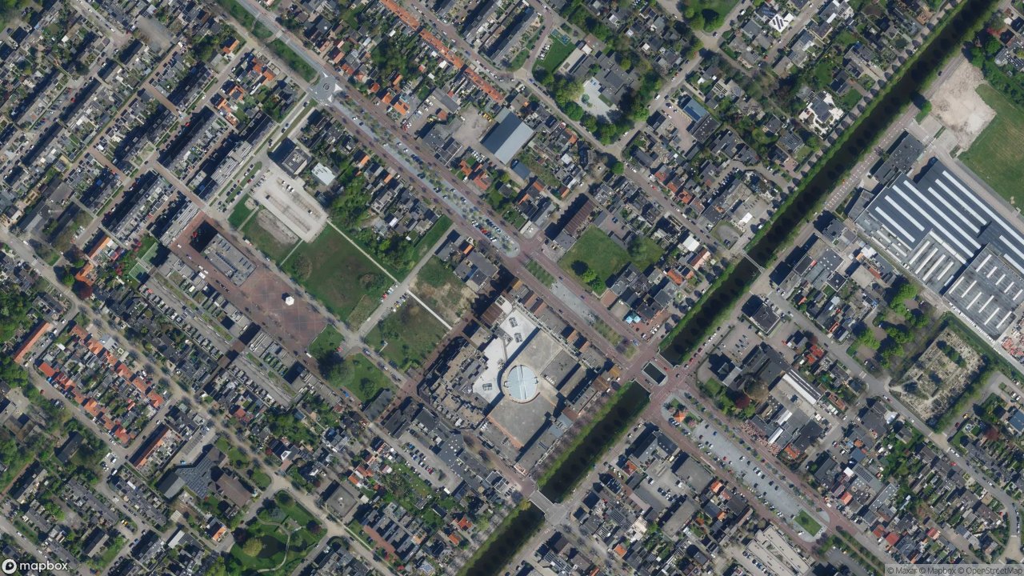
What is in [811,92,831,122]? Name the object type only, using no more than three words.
house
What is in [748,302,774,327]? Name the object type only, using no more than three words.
house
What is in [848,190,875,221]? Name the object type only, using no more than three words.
building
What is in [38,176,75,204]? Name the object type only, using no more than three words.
building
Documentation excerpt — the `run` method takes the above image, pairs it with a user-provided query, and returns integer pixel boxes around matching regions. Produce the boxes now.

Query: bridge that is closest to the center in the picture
[632,347,680,396]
